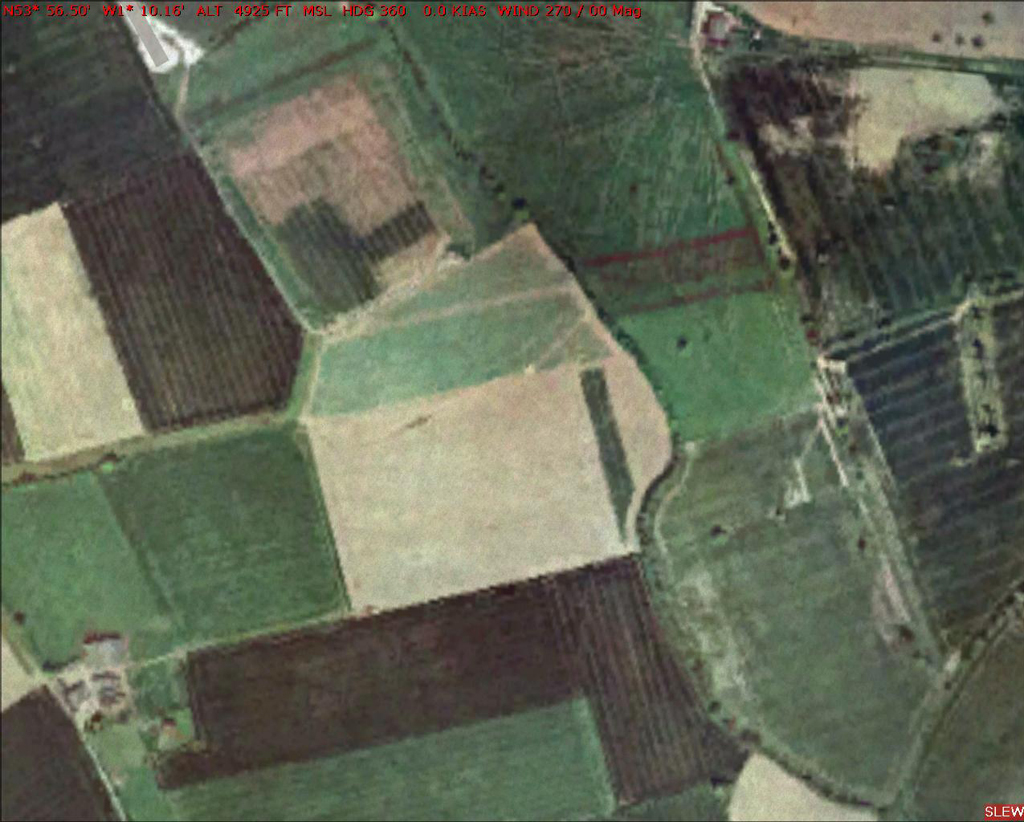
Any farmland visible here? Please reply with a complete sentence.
Yes, farmland shows up in the scene.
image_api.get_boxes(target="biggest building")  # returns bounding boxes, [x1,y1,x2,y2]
[88,640,127,664]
